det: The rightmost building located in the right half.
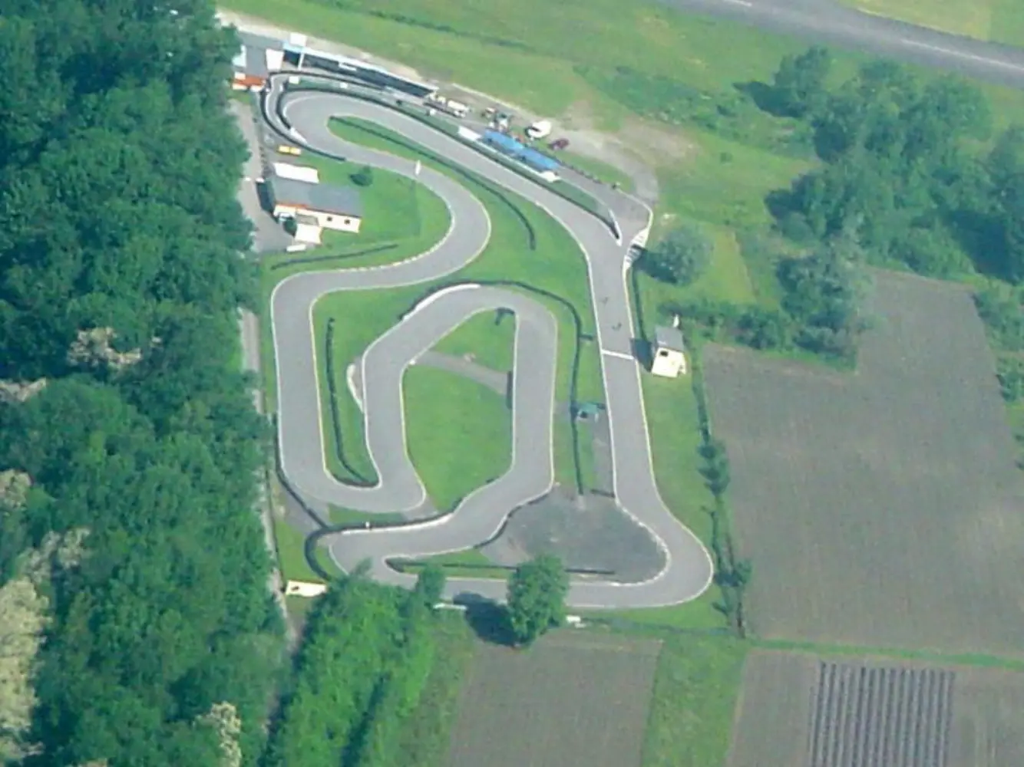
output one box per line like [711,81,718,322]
[653,327,688,377]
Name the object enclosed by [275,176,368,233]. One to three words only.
building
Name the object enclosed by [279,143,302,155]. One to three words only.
vehicle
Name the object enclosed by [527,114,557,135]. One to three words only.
vehicle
